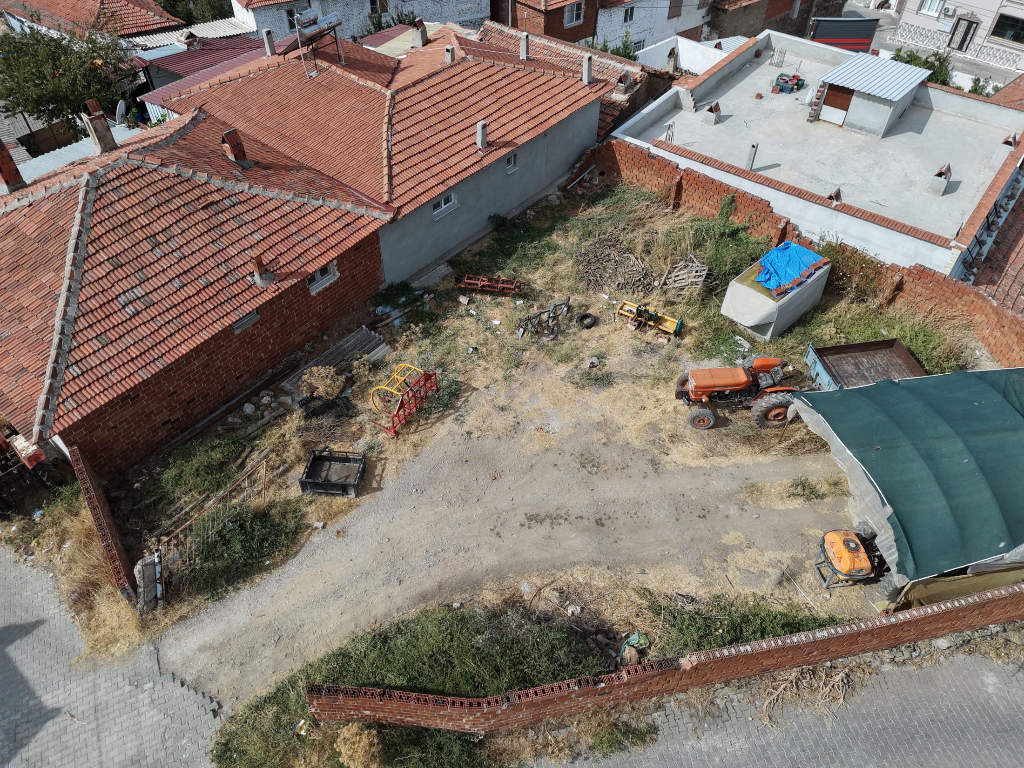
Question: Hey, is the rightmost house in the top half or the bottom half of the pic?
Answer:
top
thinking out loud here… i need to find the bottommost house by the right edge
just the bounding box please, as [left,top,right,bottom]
[957,196,1024,323]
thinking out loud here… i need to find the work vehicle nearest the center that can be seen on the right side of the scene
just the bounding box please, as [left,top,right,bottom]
[674,352,807,430]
